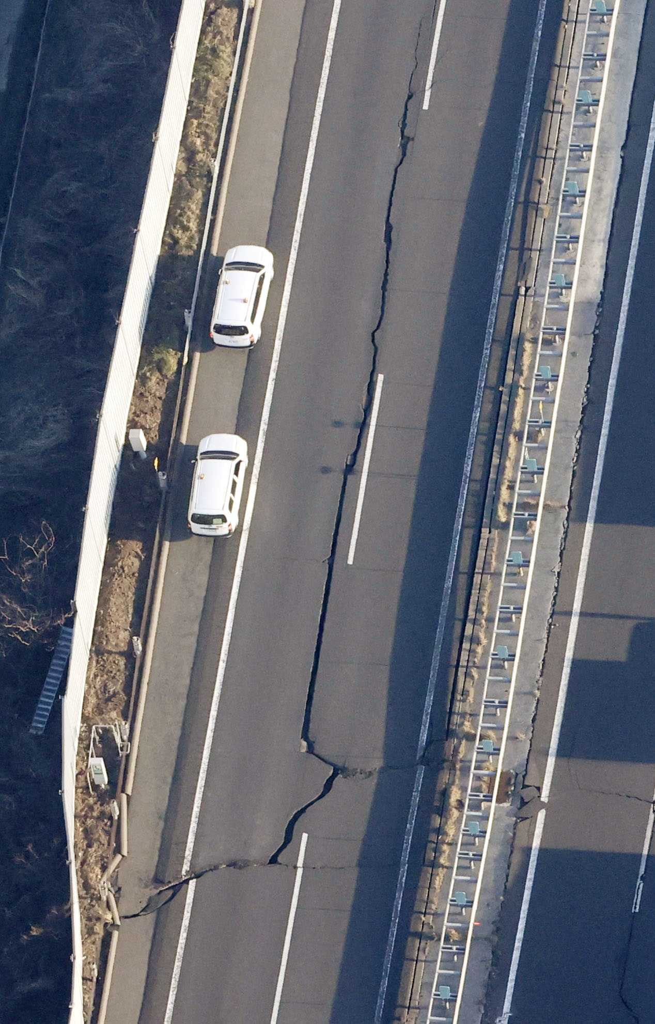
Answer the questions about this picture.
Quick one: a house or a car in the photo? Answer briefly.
car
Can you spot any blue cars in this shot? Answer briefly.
No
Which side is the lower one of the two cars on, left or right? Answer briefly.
left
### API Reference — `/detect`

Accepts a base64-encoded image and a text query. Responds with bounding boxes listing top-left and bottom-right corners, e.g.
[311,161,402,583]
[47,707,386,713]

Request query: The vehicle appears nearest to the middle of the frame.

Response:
[188,431,246,536]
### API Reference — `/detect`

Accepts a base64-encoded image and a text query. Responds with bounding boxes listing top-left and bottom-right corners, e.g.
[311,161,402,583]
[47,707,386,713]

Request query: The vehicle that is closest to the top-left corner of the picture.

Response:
[211,244,271,347]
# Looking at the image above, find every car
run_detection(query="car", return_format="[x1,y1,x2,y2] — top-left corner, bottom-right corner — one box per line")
[188,431,246,536]
[211,244,271,347]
